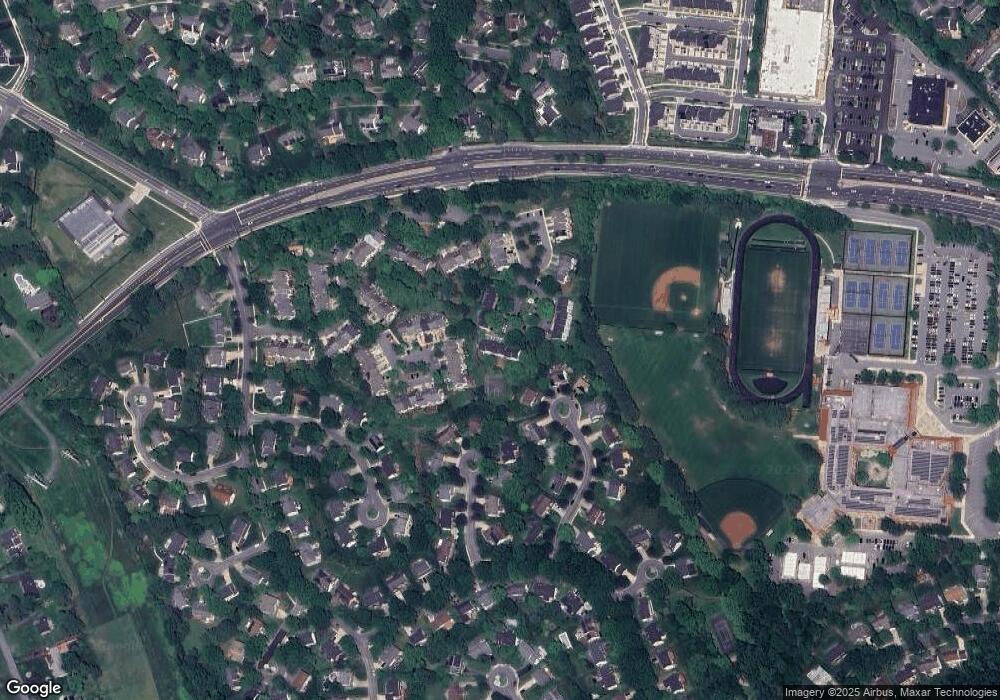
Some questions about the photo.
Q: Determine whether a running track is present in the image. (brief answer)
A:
Yes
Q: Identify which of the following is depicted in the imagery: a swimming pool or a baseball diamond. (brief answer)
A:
baseball diamond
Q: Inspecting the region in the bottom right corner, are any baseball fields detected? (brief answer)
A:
Yes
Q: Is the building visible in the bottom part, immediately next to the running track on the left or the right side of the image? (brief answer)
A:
right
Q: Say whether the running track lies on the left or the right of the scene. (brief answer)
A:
right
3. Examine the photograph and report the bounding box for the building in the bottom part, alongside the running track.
[802,382,964,533]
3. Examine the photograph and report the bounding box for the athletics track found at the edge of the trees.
[730,215,819,404]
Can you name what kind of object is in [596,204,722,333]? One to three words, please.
baseball field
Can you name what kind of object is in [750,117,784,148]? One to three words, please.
building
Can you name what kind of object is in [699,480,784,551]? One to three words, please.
baseball field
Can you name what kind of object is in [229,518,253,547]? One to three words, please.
house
